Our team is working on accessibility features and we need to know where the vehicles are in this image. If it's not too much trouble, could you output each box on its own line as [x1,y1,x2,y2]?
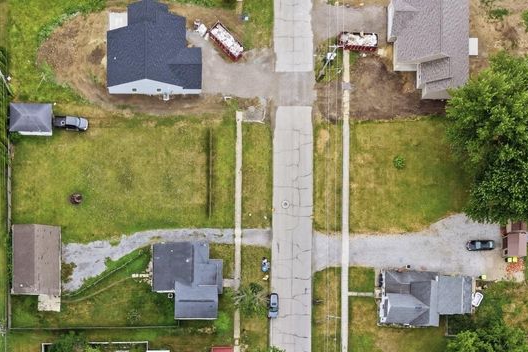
[54,116,88,132]
[465,238,495,252]
[266,292,280,320]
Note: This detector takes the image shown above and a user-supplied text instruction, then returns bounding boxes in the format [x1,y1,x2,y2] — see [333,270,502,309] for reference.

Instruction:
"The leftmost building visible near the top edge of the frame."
[106,0,203,99]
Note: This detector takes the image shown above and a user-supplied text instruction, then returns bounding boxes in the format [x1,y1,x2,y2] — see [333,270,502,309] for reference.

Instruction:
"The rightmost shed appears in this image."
[500,221,527,258]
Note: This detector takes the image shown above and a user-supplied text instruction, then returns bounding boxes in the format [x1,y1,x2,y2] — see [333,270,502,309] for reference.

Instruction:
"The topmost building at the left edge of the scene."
[9,103,54,138]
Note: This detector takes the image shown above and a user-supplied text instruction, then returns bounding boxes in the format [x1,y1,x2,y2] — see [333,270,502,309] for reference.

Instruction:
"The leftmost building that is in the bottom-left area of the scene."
[12,222,62,295]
